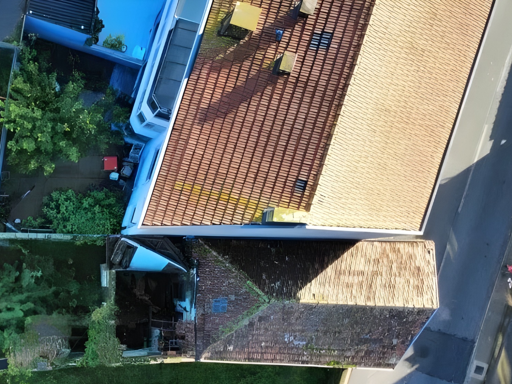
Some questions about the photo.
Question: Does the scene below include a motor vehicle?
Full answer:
No, no motor vehicle is visible in the scene.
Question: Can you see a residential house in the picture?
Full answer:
Yes, a residential house is visible in the scene.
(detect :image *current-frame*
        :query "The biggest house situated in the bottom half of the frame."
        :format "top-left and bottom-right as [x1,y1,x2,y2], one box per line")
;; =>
[180,231,441,371]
